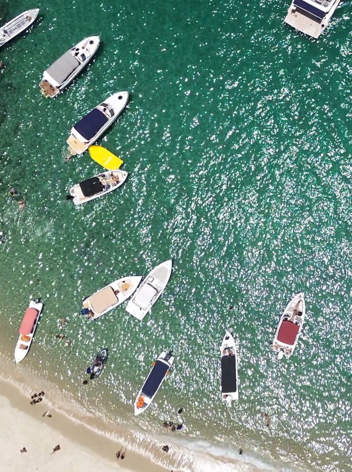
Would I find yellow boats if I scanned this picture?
Yes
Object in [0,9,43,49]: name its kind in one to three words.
boat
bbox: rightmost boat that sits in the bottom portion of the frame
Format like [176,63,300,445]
[270,292,304,358]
